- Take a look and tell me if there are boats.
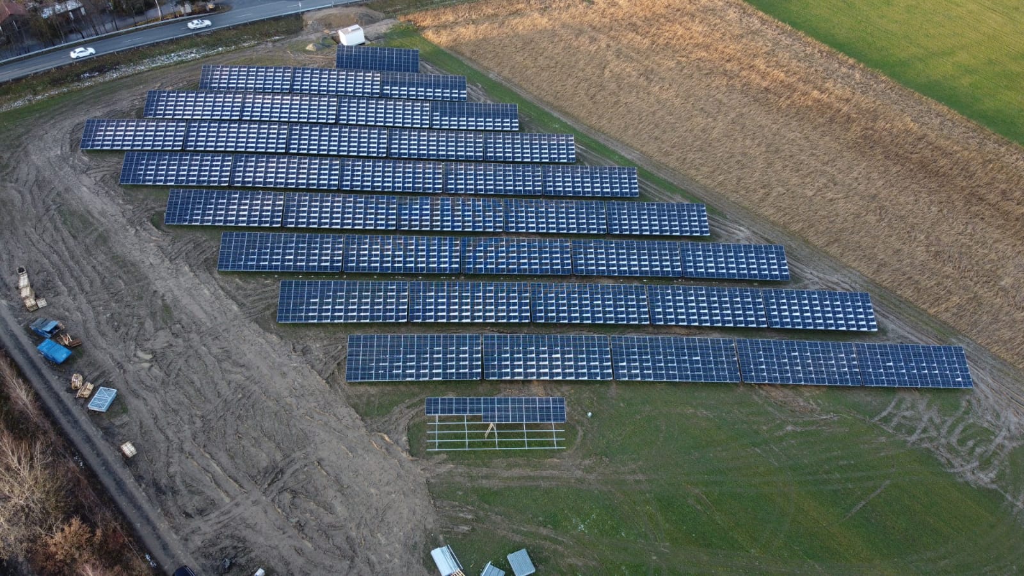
No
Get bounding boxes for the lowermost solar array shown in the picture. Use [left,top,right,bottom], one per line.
[426,398,567,449]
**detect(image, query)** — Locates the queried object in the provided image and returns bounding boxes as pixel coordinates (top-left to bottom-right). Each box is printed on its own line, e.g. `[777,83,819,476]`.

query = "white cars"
[188,20,210,30]
[69,48,95,59]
